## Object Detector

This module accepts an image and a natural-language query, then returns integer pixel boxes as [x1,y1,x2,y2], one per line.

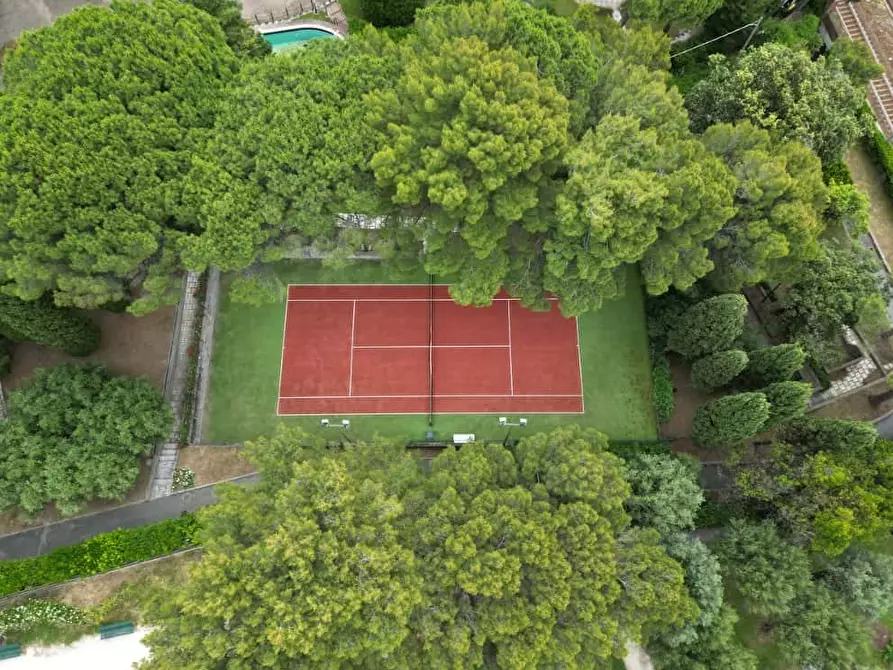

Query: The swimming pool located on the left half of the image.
[256,24,348,63]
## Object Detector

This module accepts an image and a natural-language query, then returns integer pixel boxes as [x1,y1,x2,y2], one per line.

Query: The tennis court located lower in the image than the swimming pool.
[204,257,660,444]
